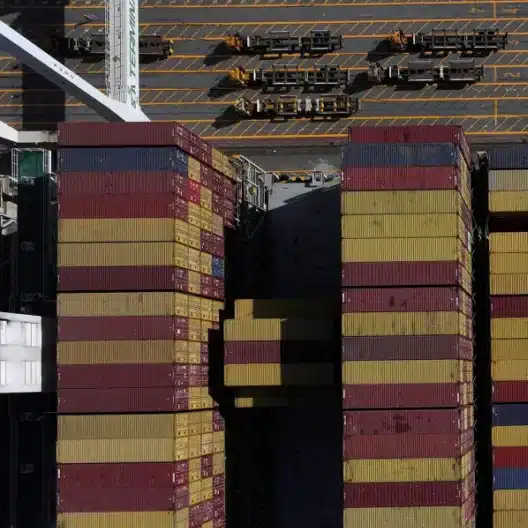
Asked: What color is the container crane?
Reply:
white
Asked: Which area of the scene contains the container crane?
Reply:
top left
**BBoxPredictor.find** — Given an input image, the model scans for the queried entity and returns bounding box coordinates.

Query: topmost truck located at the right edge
[391,27,509,53]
